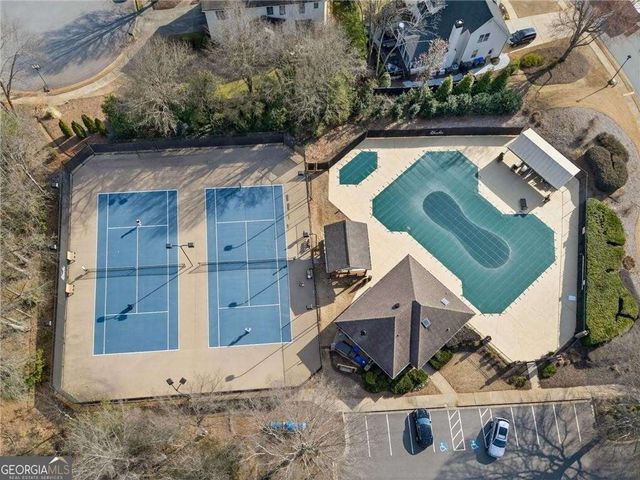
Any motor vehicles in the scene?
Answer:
Yes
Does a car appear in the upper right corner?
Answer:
Yes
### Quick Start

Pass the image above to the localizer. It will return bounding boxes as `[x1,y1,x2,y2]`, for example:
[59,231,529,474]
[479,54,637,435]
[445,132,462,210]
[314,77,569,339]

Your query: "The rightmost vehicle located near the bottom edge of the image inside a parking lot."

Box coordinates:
[488,422,509,462]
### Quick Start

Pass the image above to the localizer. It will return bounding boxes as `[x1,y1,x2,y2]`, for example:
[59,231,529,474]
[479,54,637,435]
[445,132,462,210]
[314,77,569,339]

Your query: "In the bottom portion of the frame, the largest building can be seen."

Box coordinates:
[335,254,475,379]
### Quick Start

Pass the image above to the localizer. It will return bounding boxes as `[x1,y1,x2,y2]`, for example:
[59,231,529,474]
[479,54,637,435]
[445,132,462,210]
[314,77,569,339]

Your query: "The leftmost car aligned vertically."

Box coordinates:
[416,411,436,451]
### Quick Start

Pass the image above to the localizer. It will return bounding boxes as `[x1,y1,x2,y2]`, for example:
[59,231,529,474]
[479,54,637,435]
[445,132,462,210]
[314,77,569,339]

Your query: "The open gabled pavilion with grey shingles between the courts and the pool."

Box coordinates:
[324,220,371,279]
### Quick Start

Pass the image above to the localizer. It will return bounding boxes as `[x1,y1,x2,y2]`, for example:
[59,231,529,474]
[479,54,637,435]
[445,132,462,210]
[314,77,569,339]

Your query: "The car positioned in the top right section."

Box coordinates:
[509,28,539,49]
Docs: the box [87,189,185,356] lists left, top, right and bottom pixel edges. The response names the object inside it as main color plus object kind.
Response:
blue tennis court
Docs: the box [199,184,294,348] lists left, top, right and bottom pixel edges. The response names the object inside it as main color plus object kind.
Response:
blue tennis court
